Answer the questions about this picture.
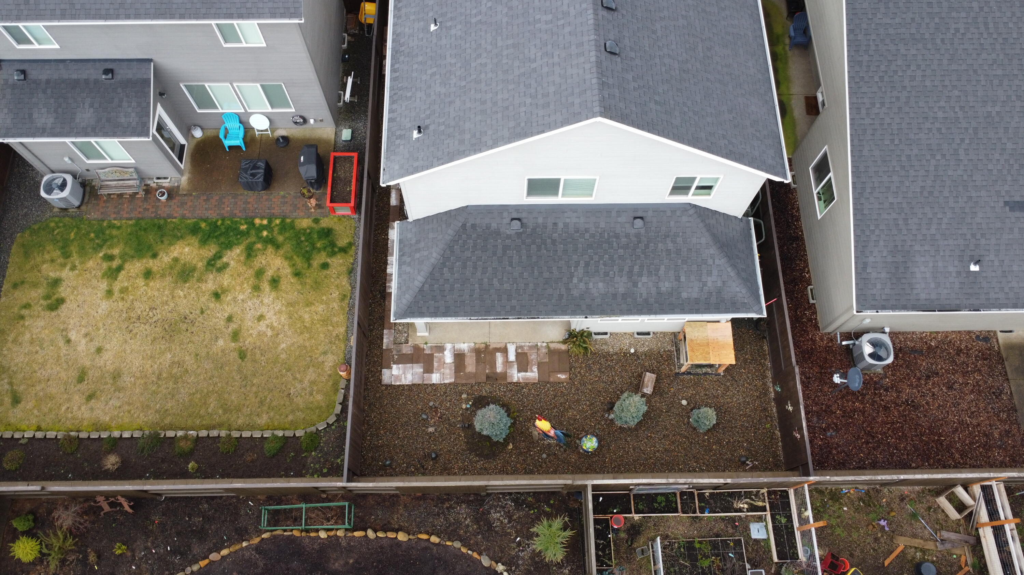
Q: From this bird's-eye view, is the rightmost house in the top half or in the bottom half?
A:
top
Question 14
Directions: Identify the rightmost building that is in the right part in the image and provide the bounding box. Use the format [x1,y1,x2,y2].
[787,0,1024,345]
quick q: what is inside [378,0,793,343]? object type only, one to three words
house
